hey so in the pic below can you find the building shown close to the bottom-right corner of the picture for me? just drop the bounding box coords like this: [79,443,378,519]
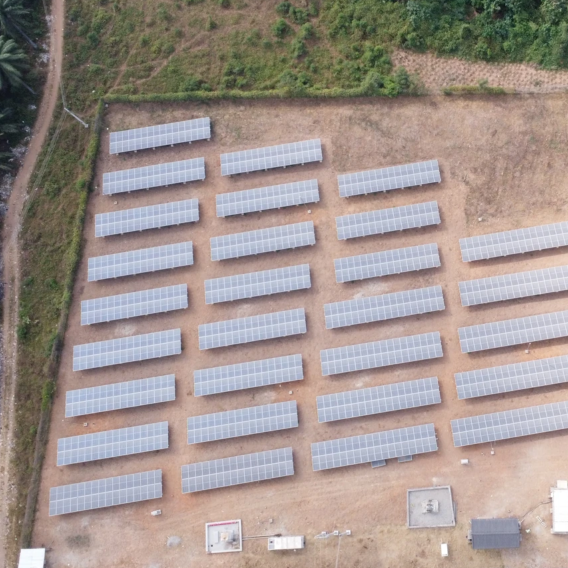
[466,510,521,550]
